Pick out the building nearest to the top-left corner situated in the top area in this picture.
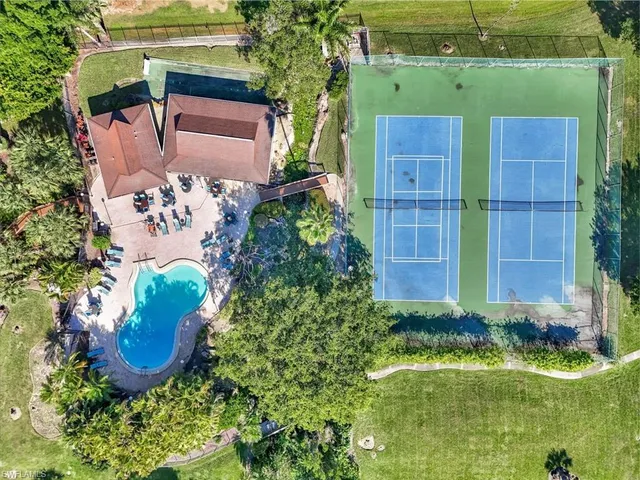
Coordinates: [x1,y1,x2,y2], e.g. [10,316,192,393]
[89,102,170,199]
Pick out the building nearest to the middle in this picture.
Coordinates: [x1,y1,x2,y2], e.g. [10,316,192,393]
[164,92,278,184]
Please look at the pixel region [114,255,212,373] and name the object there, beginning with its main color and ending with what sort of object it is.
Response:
blue swimming pool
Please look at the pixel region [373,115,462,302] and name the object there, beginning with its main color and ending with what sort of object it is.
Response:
blue tennis court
